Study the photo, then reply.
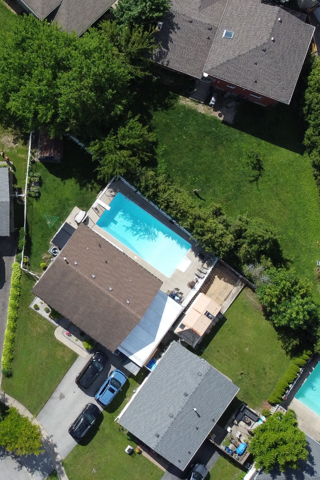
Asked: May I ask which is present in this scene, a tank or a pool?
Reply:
pool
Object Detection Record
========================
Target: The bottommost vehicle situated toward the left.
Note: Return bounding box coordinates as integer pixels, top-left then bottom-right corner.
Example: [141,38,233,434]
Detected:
[68,401,101,444]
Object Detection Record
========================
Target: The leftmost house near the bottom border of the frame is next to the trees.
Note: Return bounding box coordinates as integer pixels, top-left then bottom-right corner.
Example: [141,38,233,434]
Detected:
[116,340,240,471]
